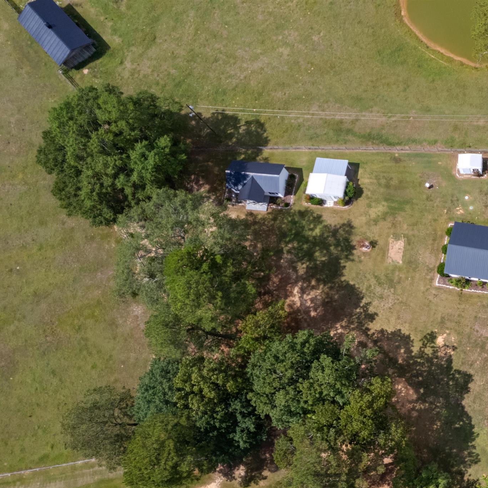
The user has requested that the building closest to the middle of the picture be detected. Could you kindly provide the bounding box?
[225,160,289,214]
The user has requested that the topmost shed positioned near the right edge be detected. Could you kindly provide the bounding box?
[458,153,483,176]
